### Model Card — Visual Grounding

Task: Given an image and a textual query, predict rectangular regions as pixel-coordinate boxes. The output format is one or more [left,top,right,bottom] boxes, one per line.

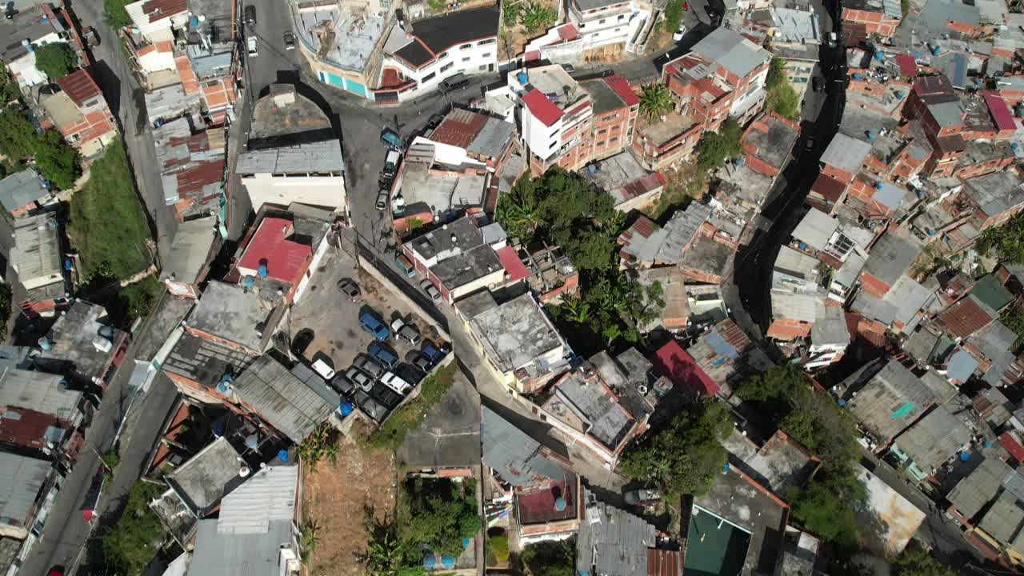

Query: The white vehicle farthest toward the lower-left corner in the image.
[310,355,337,380]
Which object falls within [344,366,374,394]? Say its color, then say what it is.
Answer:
gray car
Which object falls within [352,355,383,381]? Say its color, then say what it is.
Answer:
gray car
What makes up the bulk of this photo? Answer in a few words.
buildings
